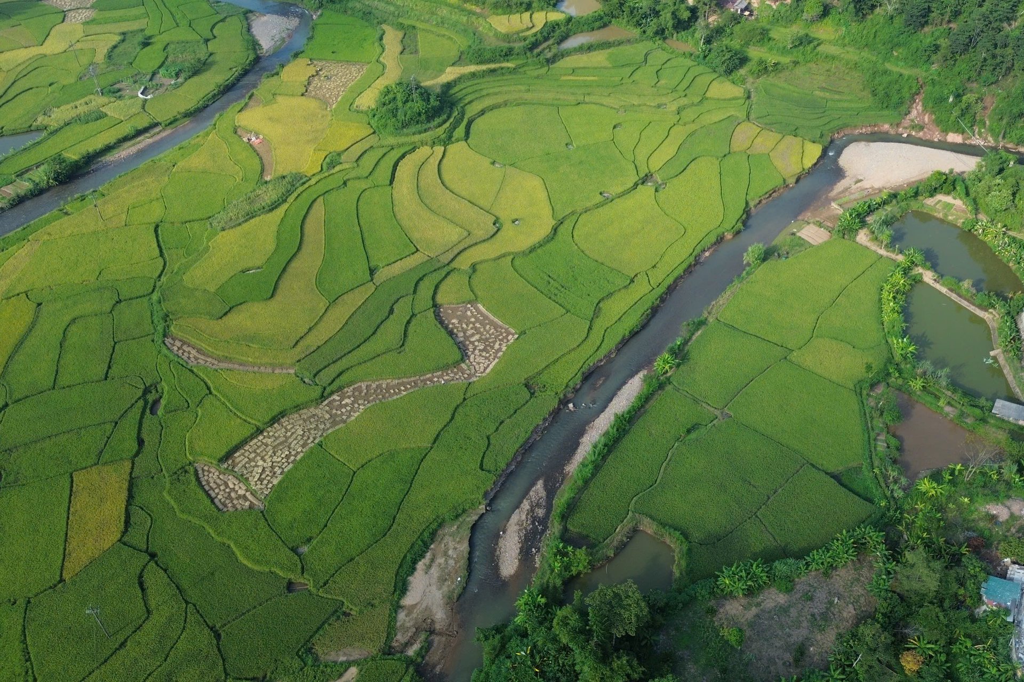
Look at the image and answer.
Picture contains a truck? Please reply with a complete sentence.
No, I find no truck anywhere in the image.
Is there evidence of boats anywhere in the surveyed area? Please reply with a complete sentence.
No, no boat is visible in the scene.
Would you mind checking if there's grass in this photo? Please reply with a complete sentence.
Yes, grass shows up in the scene.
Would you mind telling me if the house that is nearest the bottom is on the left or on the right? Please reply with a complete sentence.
The house that is nearest the bottom appears in the right half of the scene.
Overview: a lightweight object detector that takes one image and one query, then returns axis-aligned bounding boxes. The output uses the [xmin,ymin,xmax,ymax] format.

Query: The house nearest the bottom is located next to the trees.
[980,575,1024,613]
